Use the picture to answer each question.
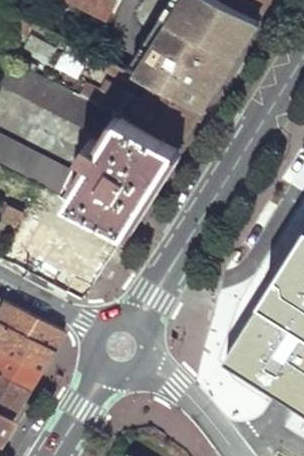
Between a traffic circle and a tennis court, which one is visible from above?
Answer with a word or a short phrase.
traffic circle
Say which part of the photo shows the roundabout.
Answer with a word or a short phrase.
bottom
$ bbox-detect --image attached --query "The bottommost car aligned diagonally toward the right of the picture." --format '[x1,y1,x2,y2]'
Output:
[228,248,245,267]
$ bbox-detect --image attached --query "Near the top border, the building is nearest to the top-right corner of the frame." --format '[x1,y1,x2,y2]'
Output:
[130,0,266,119]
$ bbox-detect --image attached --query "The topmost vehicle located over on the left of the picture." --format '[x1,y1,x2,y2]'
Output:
[100,306,120,319]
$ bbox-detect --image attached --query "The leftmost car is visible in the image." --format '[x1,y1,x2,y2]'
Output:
[28,418,48,433]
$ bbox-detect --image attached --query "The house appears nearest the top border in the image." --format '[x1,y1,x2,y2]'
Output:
[64,0,110,22]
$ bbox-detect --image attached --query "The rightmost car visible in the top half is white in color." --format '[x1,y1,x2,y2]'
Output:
[292,150,304,172]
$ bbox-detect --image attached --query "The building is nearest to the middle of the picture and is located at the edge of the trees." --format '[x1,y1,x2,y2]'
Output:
[58,122,180,246]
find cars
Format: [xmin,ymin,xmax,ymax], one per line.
[292,150,304,172]
[246,224,264,246]
[100,306,120,319]
[228,248,245,267]
[28,418,48,433]
[185,172,201,192]
[45,430,61,450]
